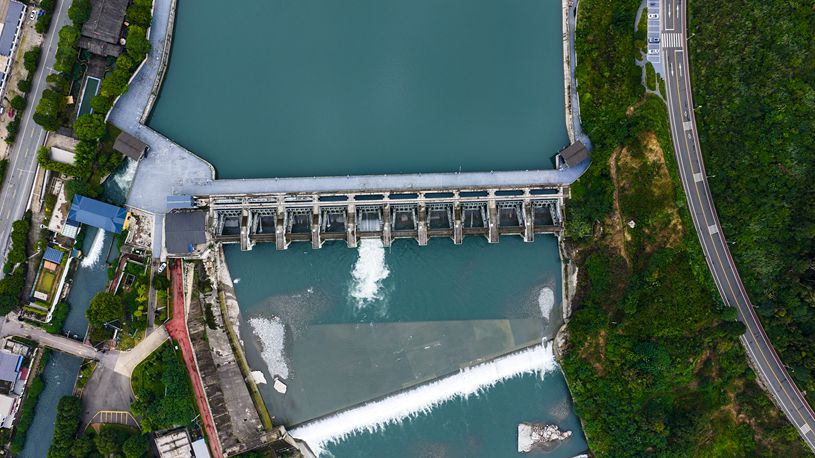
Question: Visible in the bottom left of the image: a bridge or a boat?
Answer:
bridge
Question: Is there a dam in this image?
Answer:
Yes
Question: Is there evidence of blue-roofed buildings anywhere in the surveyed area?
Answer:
Yes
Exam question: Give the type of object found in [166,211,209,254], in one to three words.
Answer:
building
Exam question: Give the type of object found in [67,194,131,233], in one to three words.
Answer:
building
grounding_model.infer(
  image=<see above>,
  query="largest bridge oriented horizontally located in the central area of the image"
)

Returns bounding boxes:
[190,171,562,197]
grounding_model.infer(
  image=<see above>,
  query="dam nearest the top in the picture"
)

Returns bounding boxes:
[208,186,568,250]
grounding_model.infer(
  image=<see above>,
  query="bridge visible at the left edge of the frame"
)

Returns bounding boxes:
[0,320,103,365]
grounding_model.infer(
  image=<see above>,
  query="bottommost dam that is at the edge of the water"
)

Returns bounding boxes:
[289,342,557,433]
